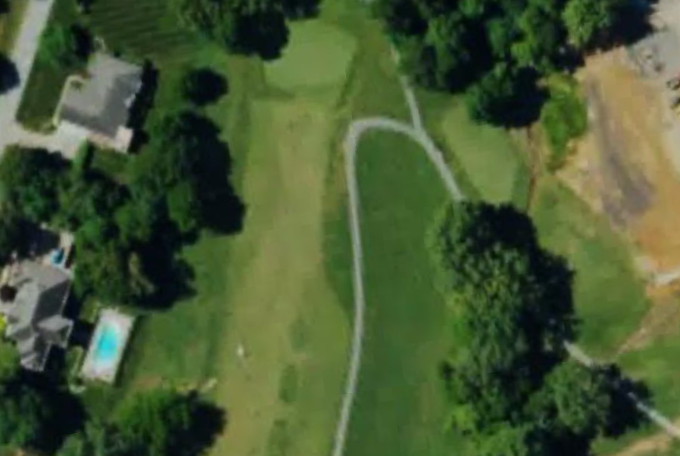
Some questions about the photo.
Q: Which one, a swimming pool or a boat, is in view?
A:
swimming pool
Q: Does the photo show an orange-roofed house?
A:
No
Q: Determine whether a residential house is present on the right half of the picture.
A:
No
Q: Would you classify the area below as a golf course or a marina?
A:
golf course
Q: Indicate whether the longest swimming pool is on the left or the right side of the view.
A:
left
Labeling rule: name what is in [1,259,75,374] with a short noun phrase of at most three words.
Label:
house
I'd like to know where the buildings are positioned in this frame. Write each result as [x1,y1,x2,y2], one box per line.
[1,259,75,374]
[59,53,147,137]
